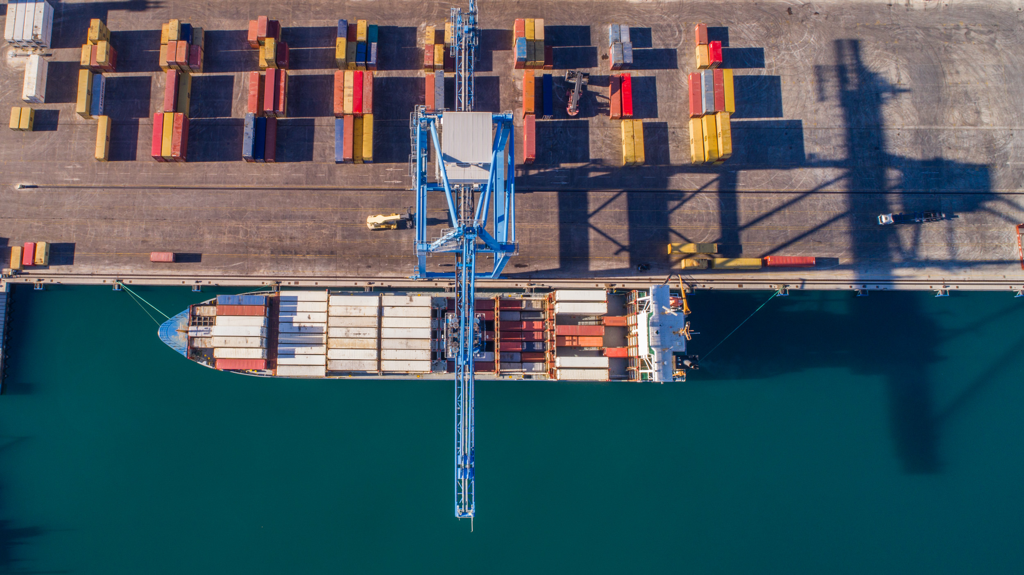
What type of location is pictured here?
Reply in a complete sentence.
The picture captures a port.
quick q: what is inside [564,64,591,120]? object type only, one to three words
work vehicle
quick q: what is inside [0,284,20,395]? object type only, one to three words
pier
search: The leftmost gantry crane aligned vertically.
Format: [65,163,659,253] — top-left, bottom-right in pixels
[403,0,521,535]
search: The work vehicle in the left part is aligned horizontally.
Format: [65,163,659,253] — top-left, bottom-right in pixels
[367,207,416,232]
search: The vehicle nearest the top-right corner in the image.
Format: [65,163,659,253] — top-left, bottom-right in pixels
[875,210,942,225]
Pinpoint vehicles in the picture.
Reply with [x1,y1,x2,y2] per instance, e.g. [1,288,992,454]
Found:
[875,210,942,225]
[564,64,591,120]
[367,207,416,232]
[638,264,651,270]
